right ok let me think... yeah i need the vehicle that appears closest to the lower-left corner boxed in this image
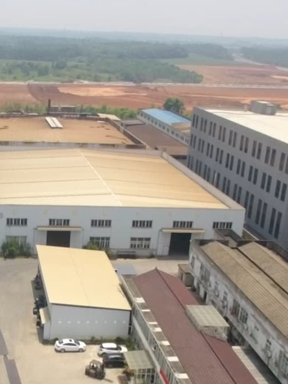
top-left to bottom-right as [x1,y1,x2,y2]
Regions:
[53,339,86,353]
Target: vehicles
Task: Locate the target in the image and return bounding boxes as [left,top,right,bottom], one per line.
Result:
[94,341,125,356]
[99,353,129,366]
[53,339,86,353]
[86,359,106,381]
